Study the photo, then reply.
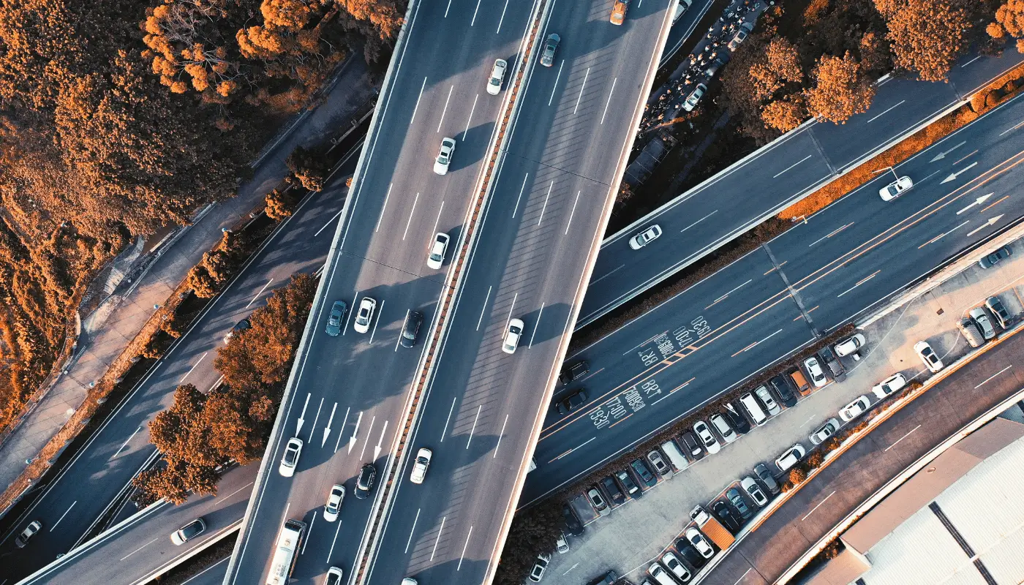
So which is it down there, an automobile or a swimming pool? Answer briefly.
automobile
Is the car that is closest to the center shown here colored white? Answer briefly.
Yes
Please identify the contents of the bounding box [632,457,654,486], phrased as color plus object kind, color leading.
blue car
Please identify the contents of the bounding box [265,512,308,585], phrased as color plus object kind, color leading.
white bus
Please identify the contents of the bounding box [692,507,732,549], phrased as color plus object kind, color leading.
orange truck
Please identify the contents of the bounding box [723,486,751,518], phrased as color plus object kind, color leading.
blue car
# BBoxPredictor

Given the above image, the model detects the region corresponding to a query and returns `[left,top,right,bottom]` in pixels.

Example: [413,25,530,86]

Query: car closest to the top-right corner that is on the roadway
[876,176,912,201]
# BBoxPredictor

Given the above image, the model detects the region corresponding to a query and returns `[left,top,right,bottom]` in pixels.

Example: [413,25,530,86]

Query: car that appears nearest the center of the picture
[502,317,523,354]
